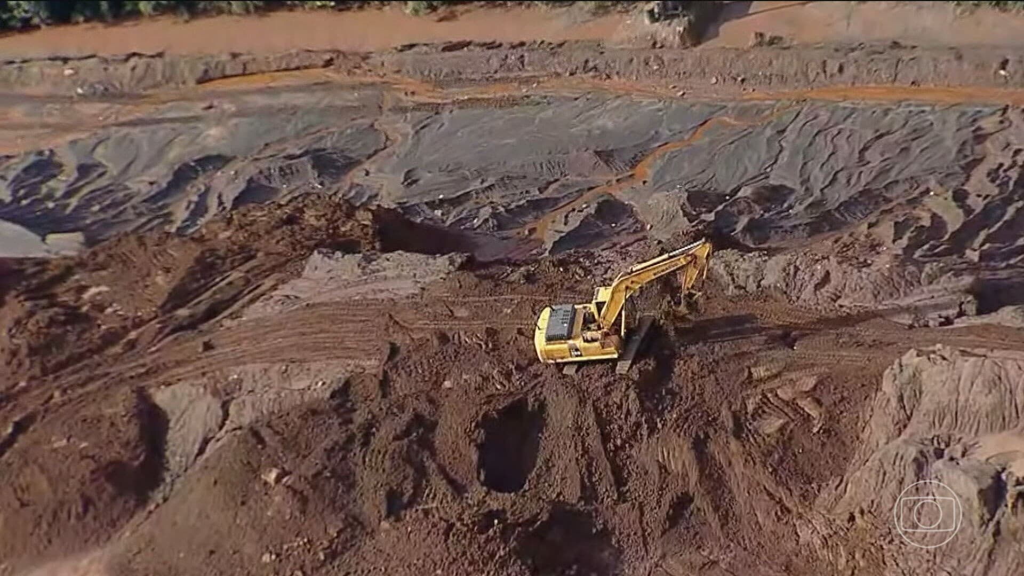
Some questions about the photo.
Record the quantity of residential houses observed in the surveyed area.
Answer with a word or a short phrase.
none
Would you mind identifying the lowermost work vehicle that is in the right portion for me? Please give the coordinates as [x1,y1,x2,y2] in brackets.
[532,233,726,381]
